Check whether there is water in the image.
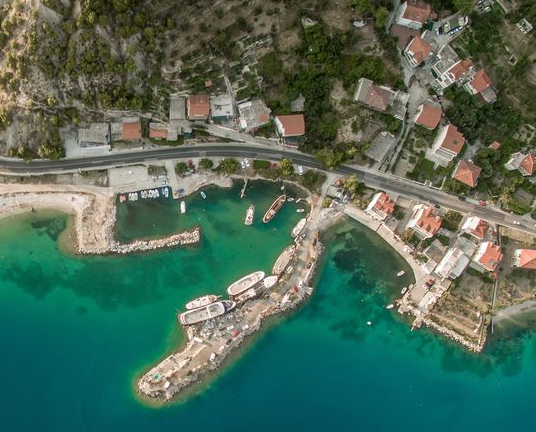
Yes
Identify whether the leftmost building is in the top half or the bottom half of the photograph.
top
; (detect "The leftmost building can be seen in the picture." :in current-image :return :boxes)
[79,123,109,144]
